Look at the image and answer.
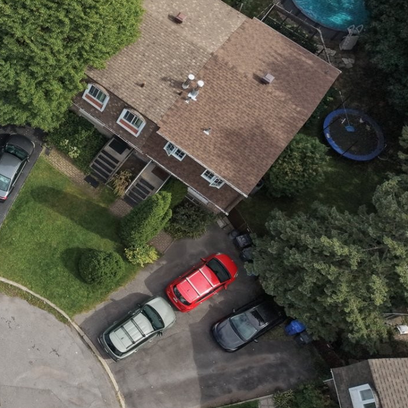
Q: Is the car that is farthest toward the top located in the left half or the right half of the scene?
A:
left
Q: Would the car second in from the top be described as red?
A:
Yes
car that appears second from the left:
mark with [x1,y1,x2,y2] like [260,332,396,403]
[98,295,179,363]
